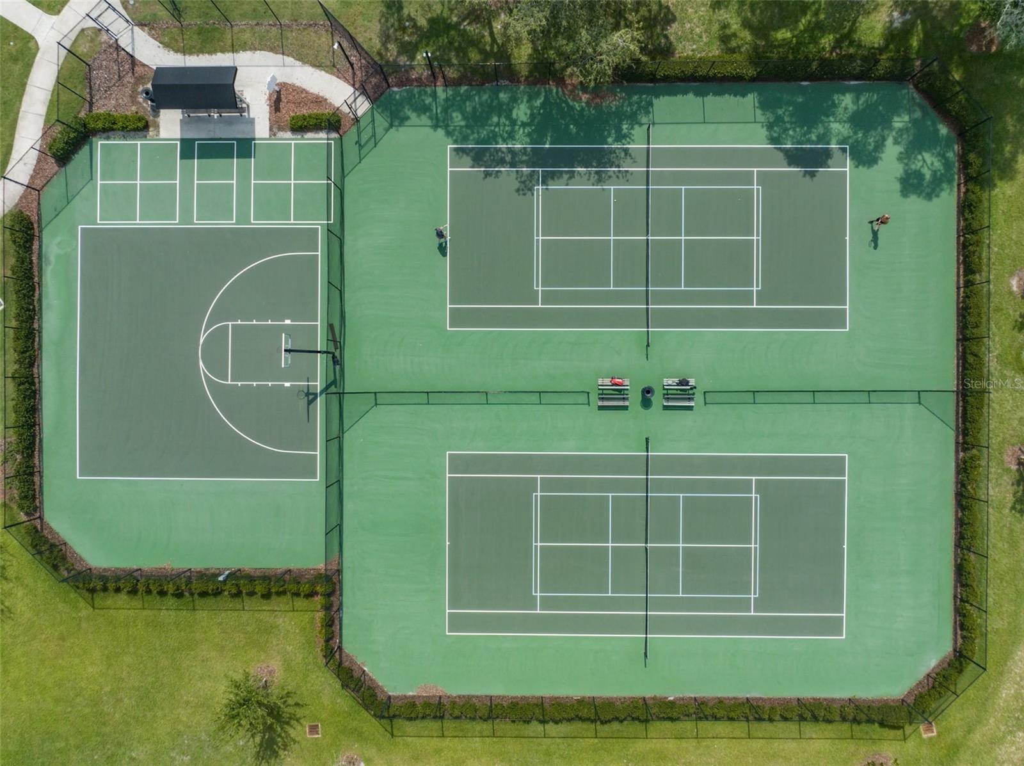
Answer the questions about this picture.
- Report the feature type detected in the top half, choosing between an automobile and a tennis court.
tennis court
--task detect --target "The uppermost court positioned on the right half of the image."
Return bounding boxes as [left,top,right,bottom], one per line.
[447,146,849,331]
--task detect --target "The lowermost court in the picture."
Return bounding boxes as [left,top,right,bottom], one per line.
[446,452,848,638]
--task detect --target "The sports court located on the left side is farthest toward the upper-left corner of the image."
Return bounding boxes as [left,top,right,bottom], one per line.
[97,141,179,223]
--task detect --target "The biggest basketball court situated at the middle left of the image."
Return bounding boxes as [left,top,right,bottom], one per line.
[77,226,320,480]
